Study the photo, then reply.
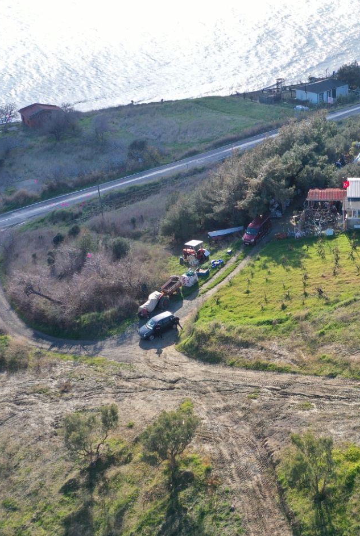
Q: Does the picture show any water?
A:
Yes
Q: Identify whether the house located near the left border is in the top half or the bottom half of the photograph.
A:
top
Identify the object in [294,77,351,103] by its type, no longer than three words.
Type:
house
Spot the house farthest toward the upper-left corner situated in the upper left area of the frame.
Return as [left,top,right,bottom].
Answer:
[17,102,63,127]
